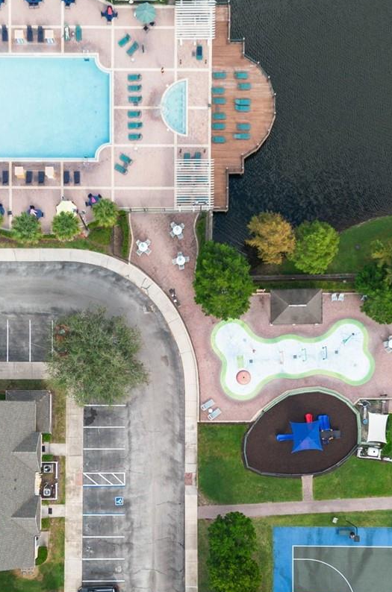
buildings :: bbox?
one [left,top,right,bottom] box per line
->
[270,289,322,327]
[0,389,55,573]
